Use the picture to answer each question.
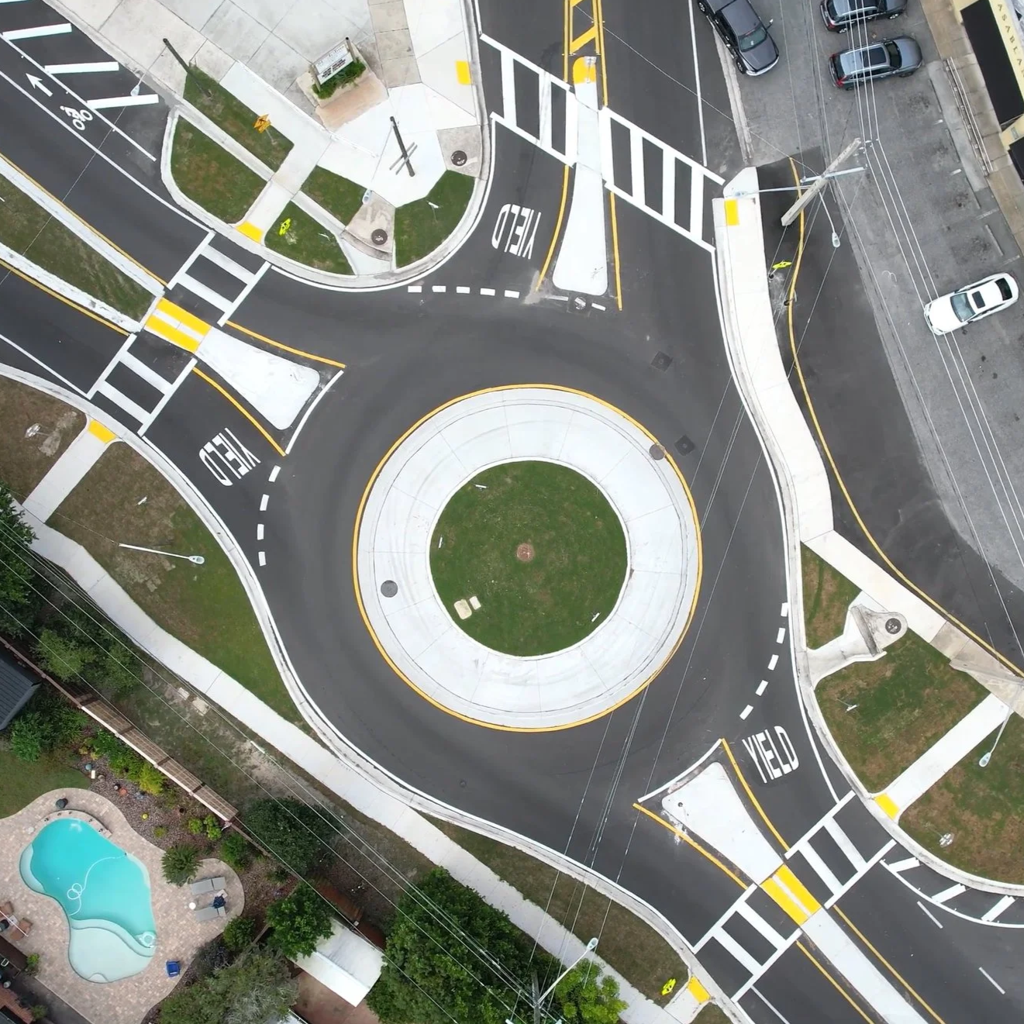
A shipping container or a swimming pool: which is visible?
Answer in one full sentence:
The image shows a swimming pool.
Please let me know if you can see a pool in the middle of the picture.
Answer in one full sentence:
No, there is no pool in the middle of the picture.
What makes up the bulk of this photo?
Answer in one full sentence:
What you mostly see from above here is paved ground.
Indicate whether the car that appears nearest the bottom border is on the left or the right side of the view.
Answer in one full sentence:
It is on the right.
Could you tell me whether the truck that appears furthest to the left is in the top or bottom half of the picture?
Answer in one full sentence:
The truck that appears furthest to the left sits in the top half of the picture.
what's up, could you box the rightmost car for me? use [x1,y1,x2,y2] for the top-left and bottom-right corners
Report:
[920,270,1022,337]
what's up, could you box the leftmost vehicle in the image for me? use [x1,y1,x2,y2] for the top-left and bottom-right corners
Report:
[690,0,779,75]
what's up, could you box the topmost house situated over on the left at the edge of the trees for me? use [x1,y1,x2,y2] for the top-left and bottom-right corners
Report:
[0,643,45,732]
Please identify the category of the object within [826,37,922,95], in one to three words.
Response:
car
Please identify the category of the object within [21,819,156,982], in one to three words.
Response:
swimming pool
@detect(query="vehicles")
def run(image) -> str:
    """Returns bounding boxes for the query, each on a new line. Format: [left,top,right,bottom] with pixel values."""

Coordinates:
[826,37,922,95]
[920,270,1022,337]
[690,0,779,75]
[813,0,909,40]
